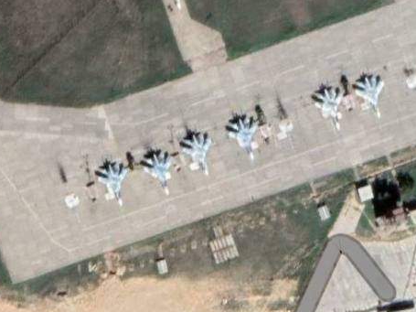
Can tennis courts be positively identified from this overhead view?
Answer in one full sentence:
No, the photo shows no tennis court.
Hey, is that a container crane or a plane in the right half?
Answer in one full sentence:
Looking in the right half, you will find a plane.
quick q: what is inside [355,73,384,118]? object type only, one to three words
airplane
